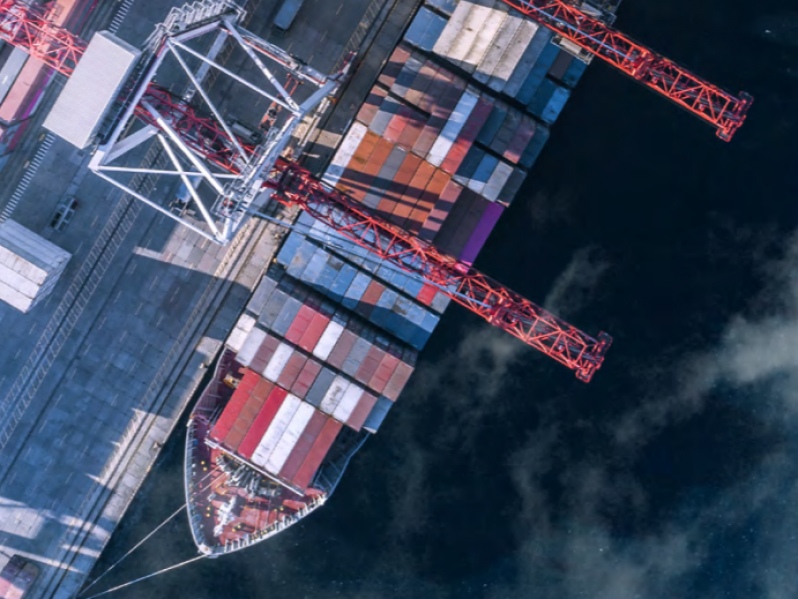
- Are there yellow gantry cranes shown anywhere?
No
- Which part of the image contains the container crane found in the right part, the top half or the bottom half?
top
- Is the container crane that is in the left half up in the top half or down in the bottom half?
top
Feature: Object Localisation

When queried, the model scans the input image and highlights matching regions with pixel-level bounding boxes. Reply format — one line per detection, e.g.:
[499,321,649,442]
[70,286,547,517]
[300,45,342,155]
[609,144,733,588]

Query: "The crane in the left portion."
[0,0,613,377]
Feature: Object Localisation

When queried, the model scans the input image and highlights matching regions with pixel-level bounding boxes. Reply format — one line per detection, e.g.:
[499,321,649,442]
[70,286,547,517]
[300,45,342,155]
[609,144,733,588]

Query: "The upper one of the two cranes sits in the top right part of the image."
[495,0,747,139]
